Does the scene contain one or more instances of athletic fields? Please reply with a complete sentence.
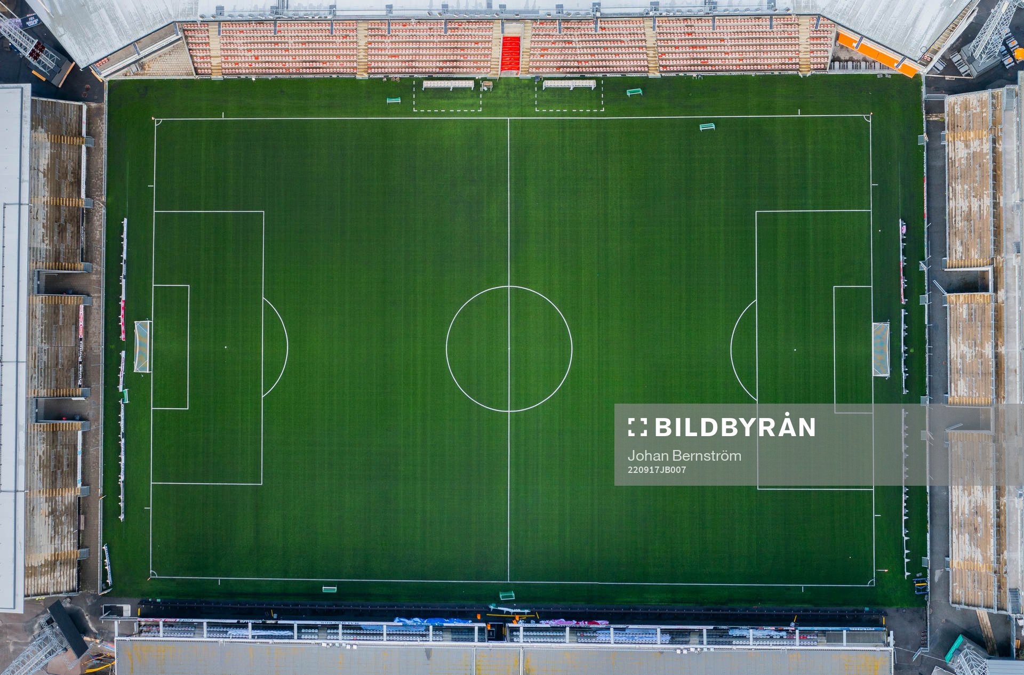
Yes, the frame does contain an athletic field.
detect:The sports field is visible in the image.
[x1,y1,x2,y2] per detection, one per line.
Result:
[102,73,929,608]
